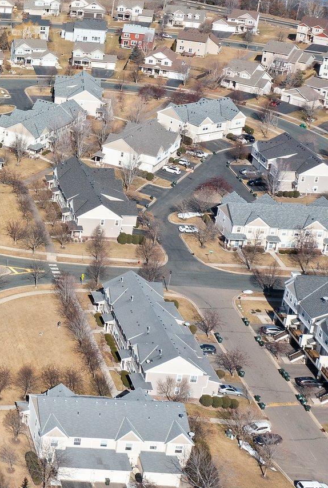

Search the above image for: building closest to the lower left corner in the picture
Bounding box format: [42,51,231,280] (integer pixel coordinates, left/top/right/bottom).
[24,371,195,488]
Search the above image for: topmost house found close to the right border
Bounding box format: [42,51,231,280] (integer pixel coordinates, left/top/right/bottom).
[295,17,328,47]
